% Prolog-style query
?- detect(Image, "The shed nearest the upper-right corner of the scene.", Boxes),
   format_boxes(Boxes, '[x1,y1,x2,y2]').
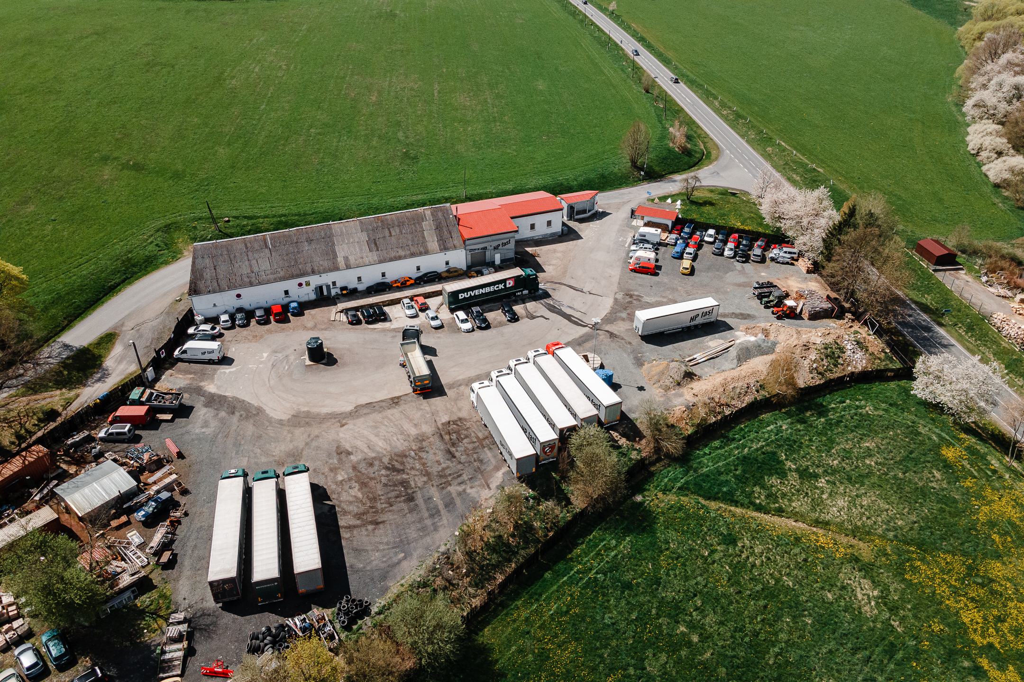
[914,237,965,269]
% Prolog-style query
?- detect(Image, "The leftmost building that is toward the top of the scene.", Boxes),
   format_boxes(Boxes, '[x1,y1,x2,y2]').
[187,204,464,316]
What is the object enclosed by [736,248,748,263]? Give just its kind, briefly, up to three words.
vehicle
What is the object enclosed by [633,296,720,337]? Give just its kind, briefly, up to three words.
trailer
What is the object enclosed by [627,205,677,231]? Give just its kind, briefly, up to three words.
building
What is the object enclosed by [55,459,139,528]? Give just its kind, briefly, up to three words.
shed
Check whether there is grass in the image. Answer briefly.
Yes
